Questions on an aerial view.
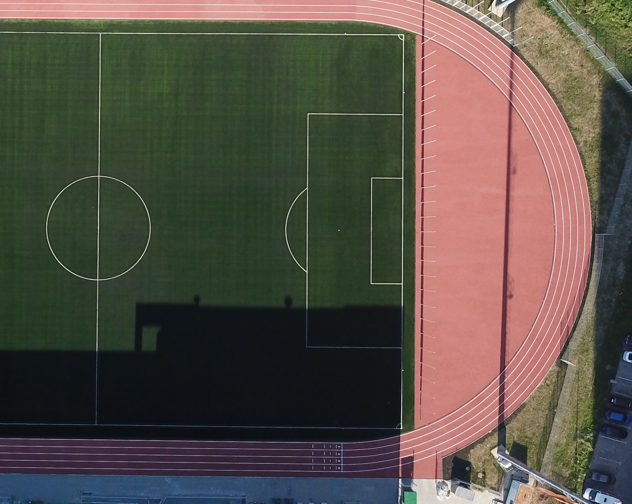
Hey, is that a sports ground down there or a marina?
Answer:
sports ground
